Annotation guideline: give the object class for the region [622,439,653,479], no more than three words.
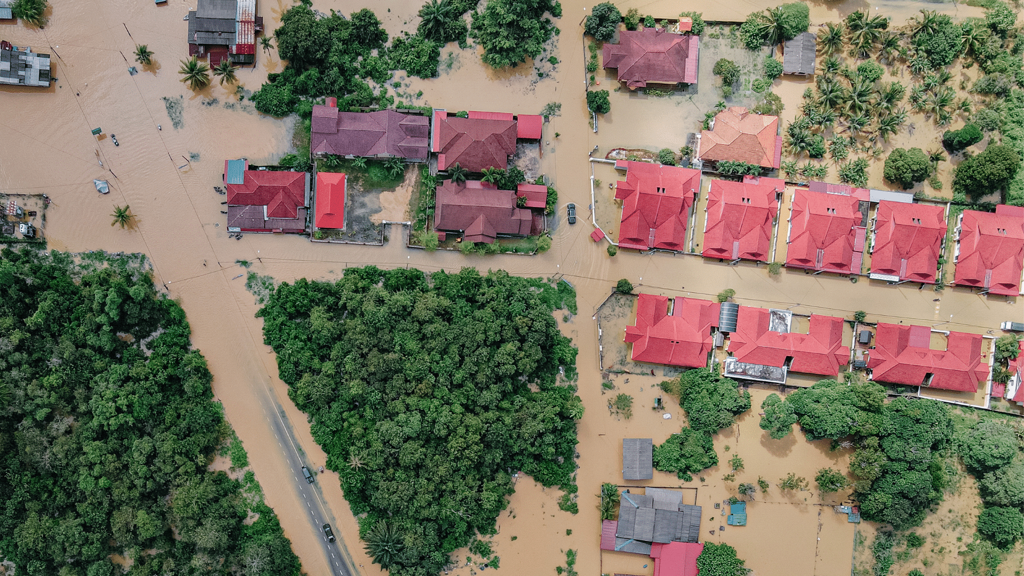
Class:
shed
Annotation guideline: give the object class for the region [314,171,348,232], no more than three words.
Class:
building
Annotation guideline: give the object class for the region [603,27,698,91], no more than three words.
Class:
house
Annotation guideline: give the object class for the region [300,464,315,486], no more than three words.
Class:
vehicle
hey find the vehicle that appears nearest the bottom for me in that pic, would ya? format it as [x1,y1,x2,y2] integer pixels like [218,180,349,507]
[322,523,335,542]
